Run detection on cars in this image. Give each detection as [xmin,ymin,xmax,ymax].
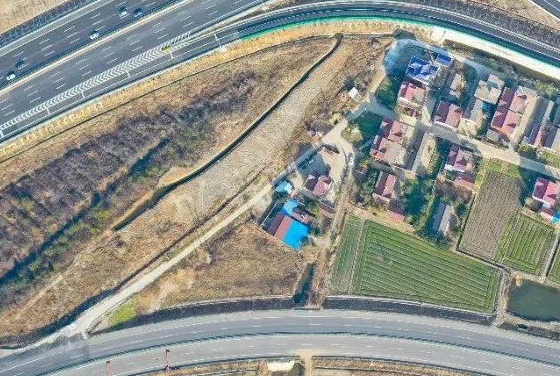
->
[5,75,15,81]
[133,11,141,17]
[15,63,25,70]
[118,9,127,15]
[90,32,98,38]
